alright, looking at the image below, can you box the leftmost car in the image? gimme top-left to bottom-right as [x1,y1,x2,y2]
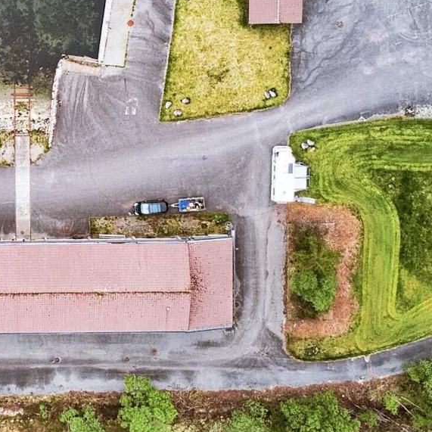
[132,199,166,217]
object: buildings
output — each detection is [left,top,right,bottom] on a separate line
[244,0,303,25]
[0,235,235,337]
